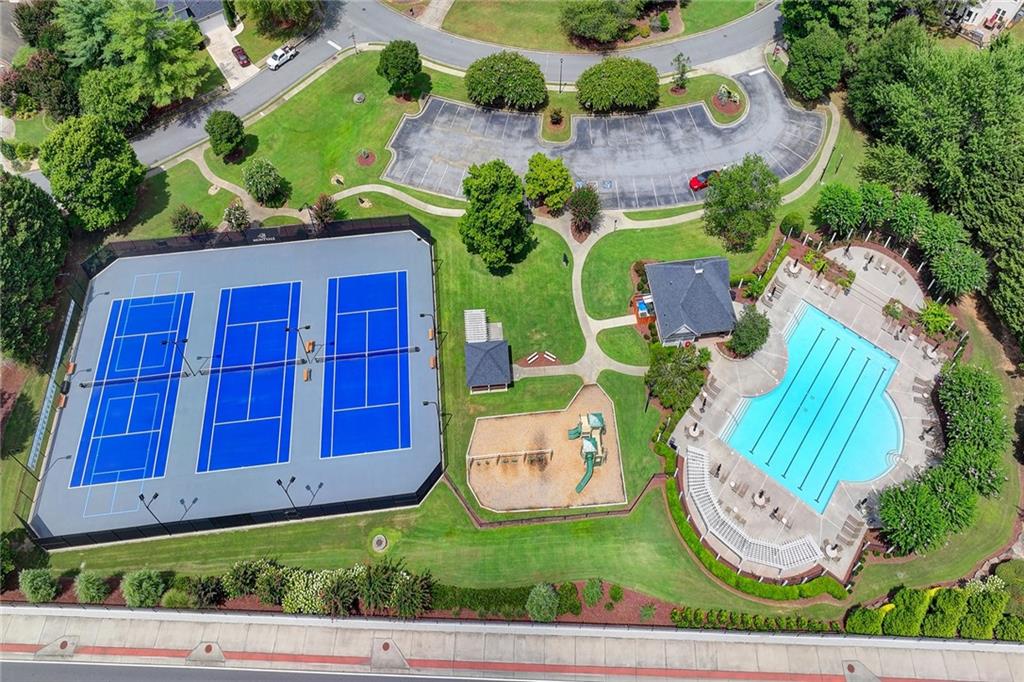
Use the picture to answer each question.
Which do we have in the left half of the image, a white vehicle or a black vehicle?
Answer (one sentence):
The feature located in the left half of the image is a white vehicle.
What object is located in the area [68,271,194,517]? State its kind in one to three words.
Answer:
tennis court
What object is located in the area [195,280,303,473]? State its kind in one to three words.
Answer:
tennis court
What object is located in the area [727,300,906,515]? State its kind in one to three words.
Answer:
swimming pool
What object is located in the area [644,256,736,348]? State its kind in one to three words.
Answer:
building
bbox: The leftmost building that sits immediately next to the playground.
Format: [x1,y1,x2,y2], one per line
[465,339,511,398]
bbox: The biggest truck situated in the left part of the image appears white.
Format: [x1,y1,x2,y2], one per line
[266,45,300,69]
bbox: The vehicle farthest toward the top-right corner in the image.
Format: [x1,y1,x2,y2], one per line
[690,170,721,189]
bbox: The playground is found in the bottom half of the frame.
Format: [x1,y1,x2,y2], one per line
[466,382,628,513]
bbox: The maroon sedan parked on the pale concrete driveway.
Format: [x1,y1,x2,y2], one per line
[232,46,251,67]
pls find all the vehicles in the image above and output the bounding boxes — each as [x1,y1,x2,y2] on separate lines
[690,170,721,189]
[232,46,251,67]
[266,45,300,69]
